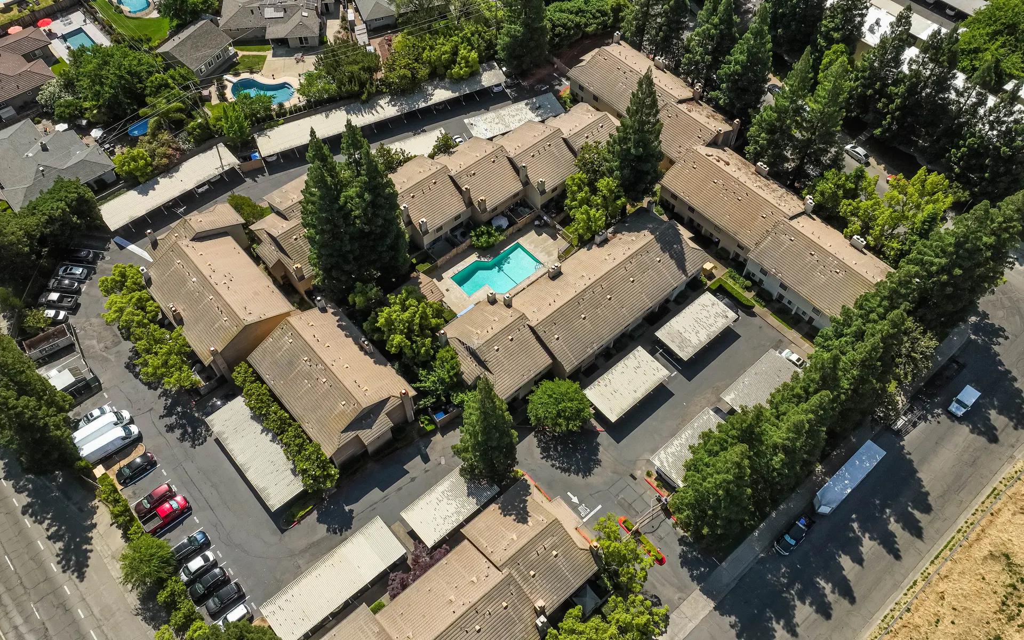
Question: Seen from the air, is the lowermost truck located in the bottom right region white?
No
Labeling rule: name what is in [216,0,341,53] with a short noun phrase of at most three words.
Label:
house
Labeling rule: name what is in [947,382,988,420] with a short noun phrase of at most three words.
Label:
truck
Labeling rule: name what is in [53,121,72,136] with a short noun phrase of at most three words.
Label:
umbrella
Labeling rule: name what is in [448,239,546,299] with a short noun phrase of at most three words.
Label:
swimming pool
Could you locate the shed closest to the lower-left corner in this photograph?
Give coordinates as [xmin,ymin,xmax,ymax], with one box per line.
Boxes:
[39,362,96,402]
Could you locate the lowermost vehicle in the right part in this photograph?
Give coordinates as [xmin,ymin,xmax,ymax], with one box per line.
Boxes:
[771,511,817,558]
